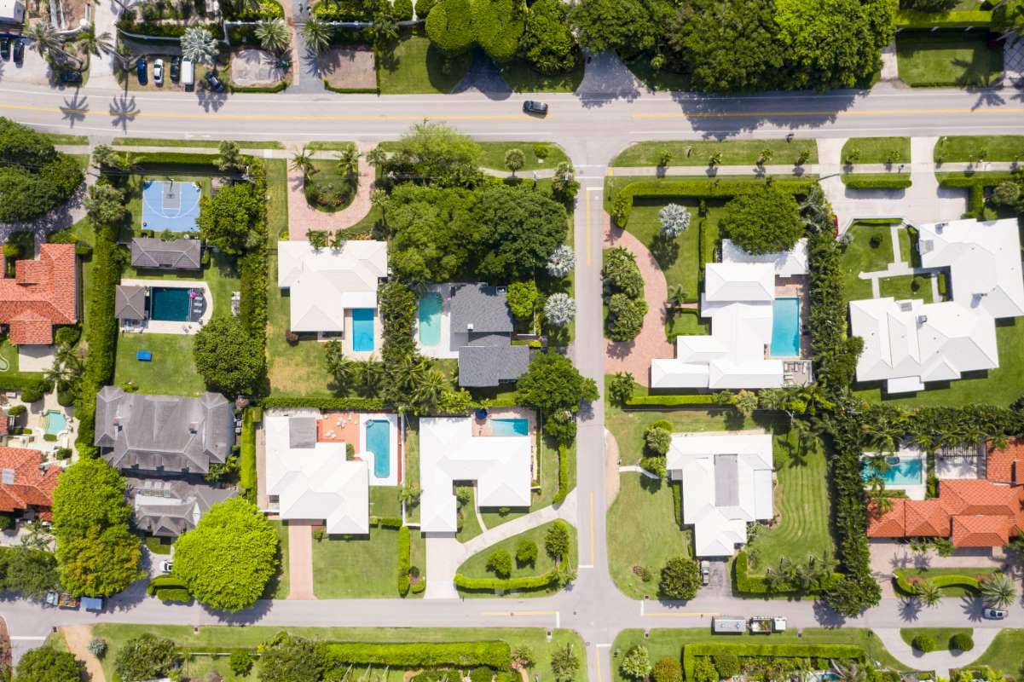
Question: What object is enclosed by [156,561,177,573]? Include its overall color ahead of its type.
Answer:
white vehicle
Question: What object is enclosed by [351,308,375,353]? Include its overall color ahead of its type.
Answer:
blue swimming pool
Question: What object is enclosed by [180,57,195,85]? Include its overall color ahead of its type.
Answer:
white vehicle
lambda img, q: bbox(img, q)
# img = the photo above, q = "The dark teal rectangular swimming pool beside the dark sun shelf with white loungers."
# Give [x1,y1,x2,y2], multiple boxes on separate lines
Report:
[151,286,191,322]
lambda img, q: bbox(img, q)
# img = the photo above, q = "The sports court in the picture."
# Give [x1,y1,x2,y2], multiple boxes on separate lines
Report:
[142,181,201,232]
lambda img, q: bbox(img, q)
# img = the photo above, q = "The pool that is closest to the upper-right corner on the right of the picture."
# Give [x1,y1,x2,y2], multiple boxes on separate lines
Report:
[769,296,802,358]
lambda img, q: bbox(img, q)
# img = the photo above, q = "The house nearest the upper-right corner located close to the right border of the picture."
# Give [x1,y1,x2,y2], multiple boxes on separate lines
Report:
[845,217,1024,393]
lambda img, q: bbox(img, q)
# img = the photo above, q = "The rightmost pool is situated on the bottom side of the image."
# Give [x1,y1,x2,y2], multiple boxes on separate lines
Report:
[861,455,923,486]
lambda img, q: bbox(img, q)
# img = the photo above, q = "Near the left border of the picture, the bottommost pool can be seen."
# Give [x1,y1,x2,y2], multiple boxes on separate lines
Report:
[40,408,68,436]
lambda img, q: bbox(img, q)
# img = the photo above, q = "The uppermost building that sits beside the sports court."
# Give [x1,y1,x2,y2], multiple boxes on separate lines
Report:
[131,238,205,269]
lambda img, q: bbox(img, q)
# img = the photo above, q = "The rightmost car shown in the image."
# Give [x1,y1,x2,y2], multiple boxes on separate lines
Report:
[981,607,1005,619]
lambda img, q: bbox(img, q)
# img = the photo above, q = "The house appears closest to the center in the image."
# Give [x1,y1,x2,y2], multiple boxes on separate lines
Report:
[439,283,529,386]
